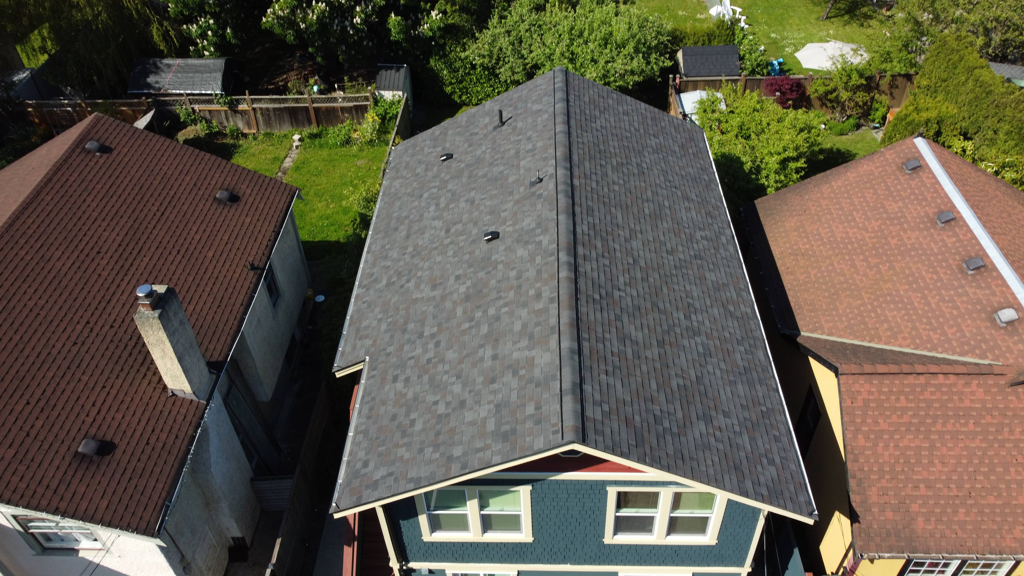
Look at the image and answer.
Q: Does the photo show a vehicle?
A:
No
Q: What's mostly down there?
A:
buildings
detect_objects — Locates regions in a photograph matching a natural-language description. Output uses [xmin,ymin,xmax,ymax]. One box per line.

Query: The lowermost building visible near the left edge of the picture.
[0,112,311,576]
